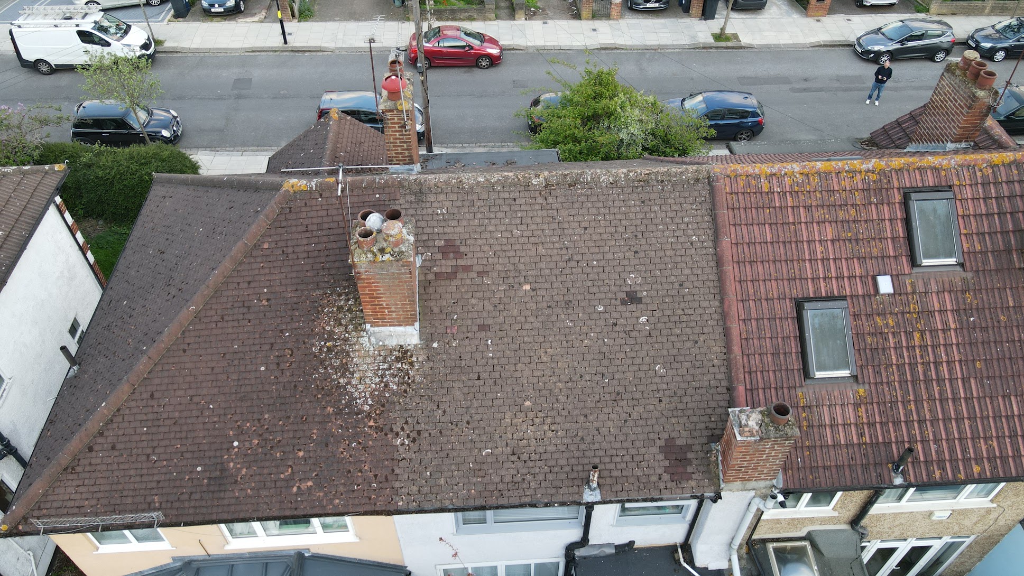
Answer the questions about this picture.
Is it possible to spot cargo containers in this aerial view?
No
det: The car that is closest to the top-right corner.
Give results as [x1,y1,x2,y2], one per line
[970,14,1024,61]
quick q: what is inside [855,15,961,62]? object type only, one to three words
car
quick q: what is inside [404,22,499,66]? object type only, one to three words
car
